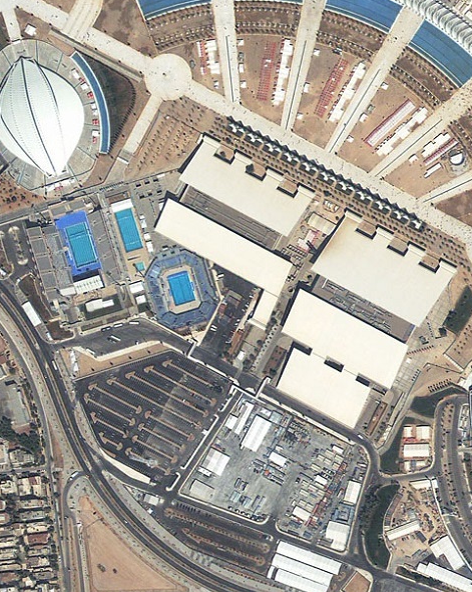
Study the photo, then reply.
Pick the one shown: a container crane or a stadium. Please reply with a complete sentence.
It is a stadium that can be seen here.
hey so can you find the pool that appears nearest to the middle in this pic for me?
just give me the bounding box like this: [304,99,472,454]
[110,208,148,286]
